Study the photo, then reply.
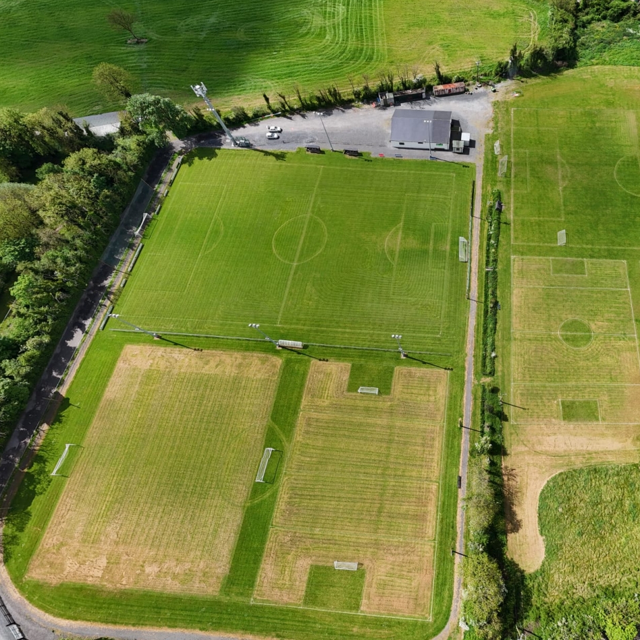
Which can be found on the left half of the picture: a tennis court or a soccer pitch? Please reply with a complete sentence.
You can see a soccer pitch on the left half of the picture.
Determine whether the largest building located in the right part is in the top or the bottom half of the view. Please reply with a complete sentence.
You can find the largest building located in the right part in the top half.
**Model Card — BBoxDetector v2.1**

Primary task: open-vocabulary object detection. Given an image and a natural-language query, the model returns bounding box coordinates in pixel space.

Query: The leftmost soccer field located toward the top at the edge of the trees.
[114,156,458,339]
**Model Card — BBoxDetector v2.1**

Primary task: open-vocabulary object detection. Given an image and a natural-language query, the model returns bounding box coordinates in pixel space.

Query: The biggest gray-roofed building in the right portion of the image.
[390,104,452,149]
